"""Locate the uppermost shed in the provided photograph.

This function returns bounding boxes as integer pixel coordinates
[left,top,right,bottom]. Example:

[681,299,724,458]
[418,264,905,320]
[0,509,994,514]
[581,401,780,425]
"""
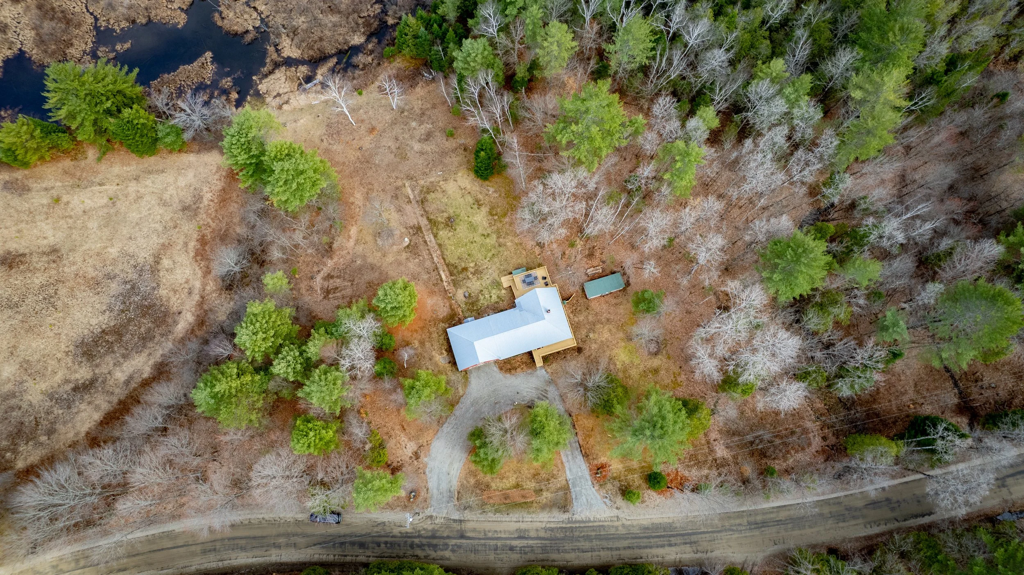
[583,273,625,301]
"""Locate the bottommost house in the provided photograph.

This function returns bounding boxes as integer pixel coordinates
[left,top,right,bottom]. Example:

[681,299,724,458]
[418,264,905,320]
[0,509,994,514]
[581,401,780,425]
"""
[447,288,573,372]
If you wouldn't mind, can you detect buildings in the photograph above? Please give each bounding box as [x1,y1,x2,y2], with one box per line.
[583,273,625,301]
[447,288,573,372]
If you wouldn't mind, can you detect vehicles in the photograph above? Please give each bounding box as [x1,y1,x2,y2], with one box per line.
[309,512,343,527]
